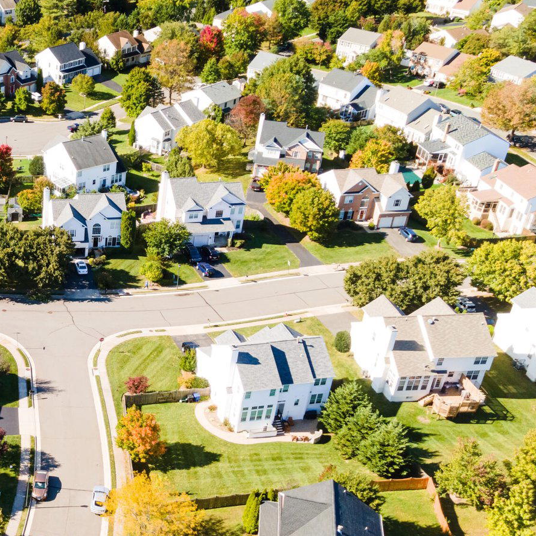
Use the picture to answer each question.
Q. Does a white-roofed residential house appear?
Yes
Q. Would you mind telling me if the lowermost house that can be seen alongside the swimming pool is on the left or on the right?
right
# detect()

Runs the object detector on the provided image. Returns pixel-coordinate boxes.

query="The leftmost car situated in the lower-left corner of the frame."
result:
[32,469,49,499]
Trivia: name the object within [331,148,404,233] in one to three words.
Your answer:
house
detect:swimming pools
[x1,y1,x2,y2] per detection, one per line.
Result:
[401,165,421,184]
